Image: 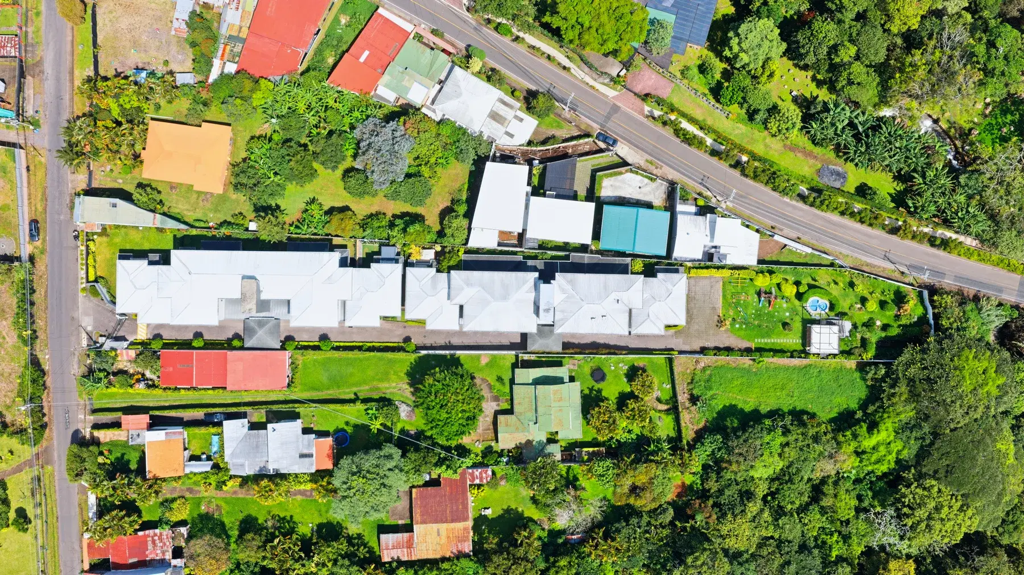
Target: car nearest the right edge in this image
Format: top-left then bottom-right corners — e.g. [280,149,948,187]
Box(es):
[596,131,617,147]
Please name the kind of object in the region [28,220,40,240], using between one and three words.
vehicle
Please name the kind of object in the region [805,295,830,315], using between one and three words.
swimming pool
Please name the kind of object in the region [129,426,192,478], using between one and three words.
house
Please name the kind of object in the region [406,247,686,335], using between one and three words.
building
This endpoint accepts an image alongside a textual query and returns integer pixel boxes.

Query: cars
[596,131,617,147]
[28,220,40,240]
[205,413,226,423]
